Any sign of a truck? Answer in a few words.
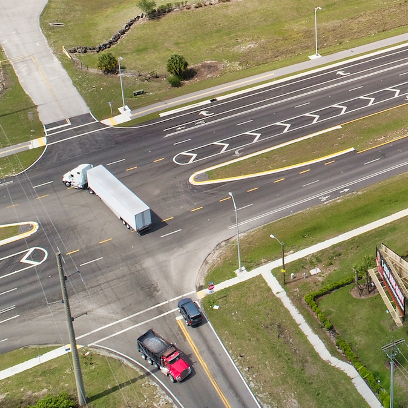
Yes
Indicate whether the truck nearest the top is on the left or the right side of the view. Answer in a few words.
left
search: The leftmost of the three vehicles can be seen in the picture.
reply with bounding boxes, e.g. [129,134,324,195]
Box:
[63,162,153,233]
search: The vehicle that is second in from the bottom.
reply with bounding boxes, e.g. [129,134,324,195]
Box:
[180,297,205,324]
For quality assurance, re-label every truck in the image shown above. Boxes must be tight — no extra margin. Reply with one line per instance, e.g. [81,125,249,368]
[131,328,196,383]
[63,162,153,233]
